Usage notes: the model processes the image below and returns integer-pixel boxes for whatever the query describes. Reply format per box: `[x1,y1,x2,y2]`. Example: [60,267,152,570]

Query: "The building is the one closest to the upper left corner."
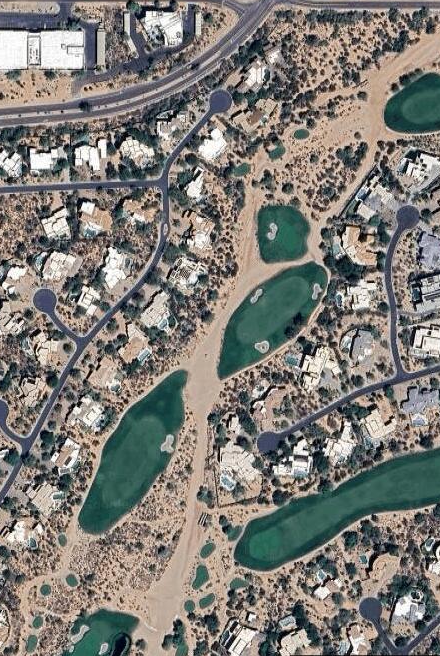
[0,29,84,69]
